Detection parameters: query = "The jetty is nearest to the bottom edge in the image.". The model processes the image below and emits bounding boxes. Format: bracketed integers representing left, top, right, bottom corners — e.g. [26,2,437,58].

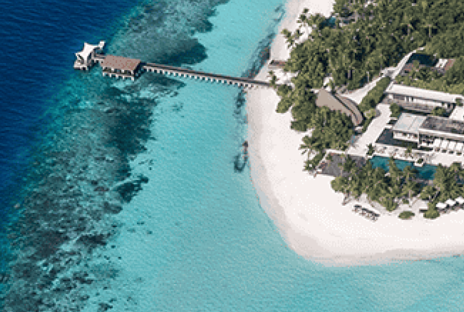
[102,65,274,91]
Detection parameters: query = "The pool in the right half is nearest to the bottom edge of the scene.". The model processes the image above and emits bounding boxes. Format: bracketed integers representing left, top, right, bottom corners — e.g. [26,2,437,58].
[367,156,464,183]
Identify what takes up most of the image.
water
